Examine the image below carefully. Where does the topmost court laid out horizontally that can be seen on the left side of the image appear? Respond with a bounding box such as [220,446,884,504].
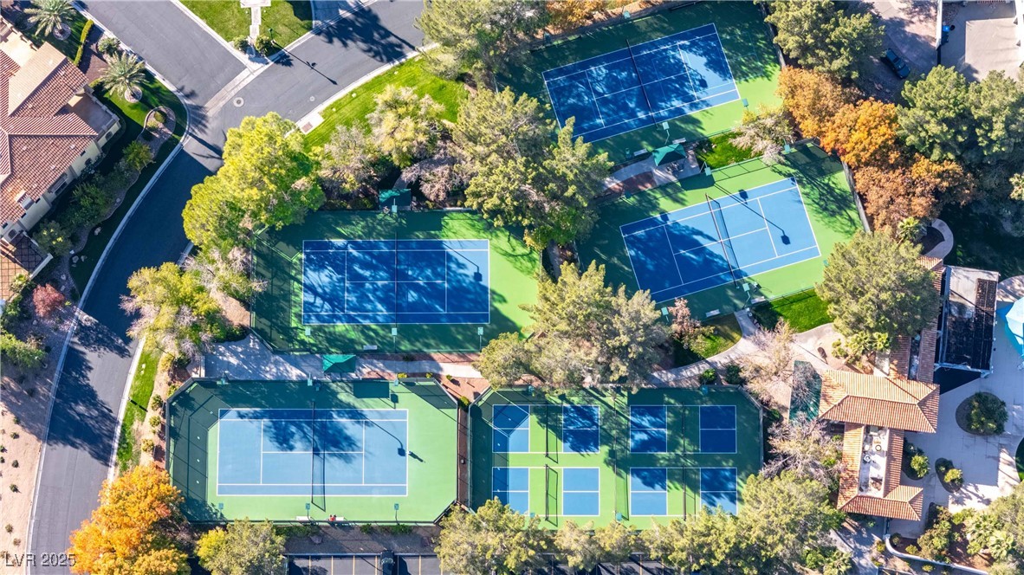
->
[253,213,538,352]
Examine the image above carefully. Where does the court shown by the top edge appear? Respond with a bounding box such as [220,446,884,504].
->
[497,0,783,171]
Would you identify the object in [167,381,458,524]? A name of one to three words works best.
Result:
tennis court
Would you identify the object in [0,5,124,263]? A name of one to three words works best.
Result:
house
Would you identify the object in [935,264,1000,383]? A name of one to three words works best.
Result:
building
